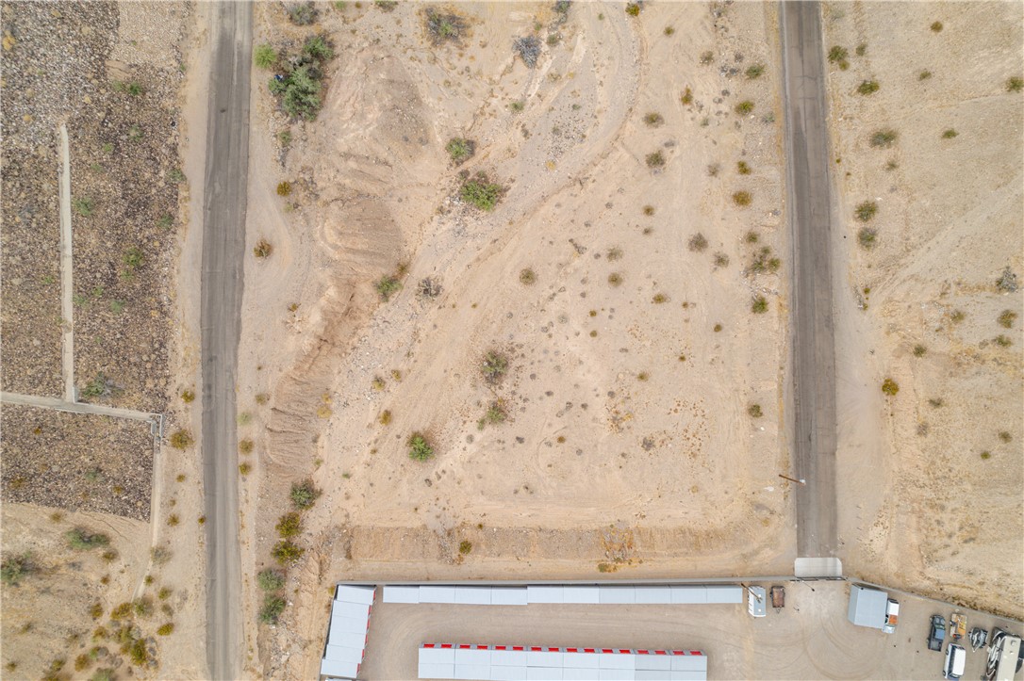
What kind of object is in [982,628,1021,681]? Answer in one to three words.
camper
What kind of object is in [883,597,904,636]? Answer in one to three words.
truck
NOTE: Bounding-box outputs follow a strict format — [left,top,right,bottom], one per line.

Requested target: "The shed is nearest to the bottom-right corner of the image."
[846,584,887,629]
